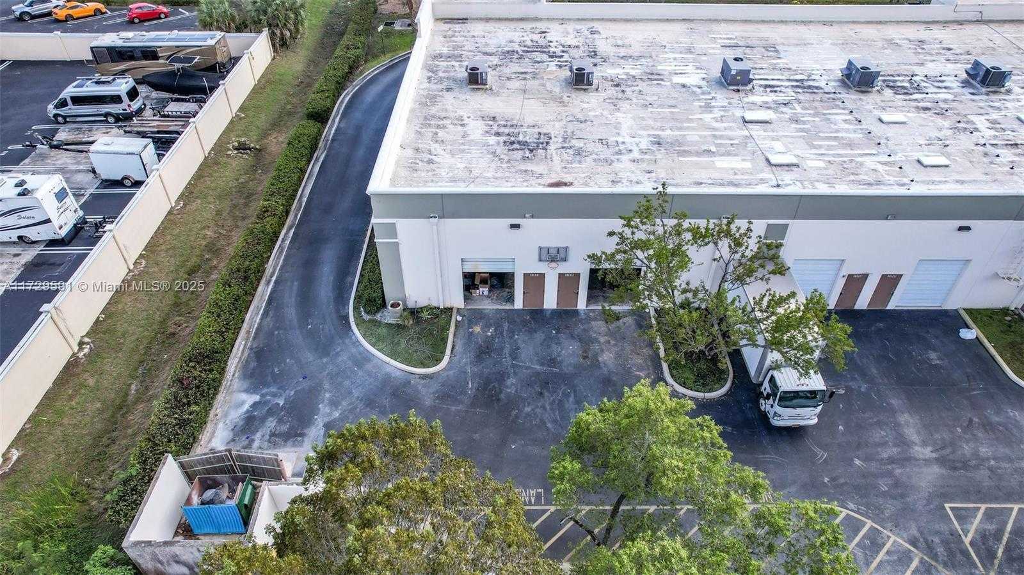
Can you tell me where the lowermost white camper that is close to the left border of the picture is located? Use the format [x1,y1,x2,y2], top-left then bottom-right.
[0,173,88,243]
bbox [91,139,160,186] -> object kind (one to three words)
trailer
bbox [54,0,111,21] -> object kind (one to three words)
car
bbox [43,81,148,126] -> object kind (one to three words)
van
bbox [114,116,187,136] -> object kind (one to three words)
trailer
